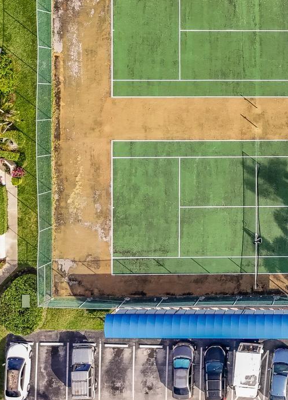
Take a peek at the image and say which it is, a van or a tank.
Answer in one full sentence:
Looking from above, you can make out a van.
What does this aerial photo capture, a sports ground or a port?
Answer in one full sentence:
This image shows a sports ground.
